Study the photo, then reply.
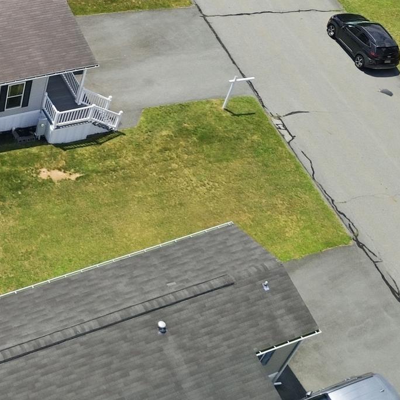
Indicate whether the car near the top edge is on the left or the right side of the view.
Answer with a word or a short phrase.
right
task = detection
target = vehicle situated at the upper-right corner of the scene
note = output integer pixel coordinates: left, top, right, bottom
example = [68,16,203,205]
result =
[327,13,400,73]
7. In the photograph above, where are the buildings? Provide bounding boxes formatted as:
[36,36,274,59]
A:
[0,220,324,400]
[0,0,124,144]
